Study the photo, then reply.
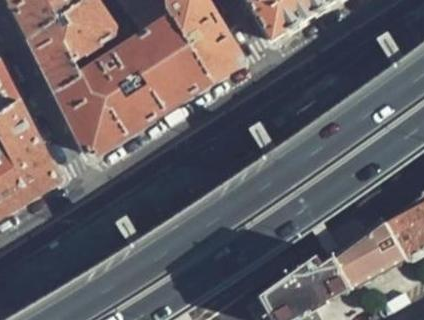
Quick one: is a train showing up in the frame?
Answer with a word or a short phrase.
No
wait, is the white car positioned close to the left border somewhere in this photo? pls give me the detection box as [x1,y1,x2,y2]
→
[0,216,20,234]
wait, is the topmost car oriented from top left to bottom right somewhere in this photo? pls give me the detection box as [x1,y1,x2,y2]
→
[232,28,246,44]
